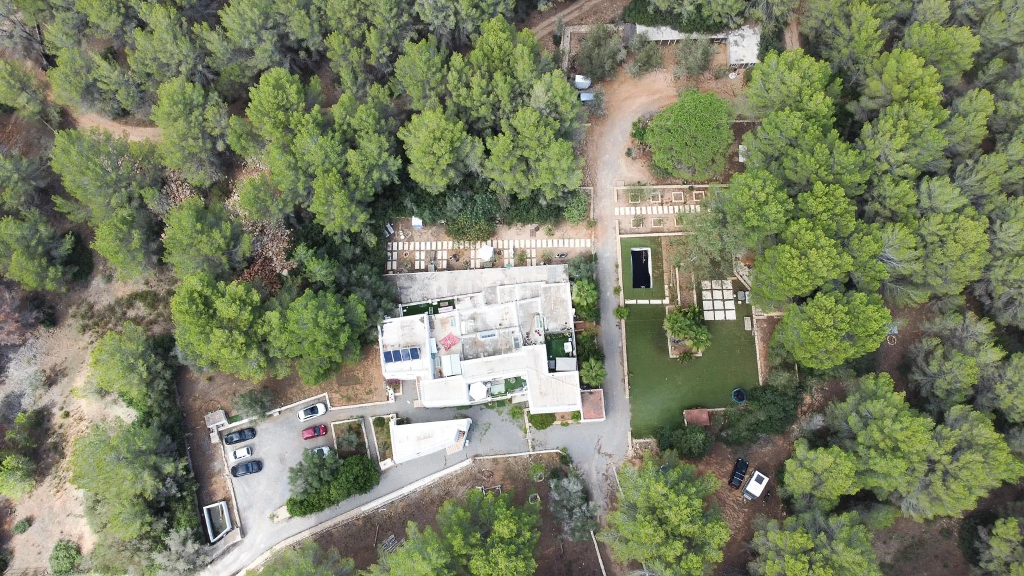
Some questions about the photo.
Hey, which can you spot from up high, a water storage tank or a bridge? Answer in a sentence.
Looking from above, you can make out a water storage tank.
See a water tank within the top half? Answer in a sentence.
No, I can find no water tank within the top half.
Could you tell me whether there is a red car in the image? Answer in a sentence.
Yes, there's a red car here.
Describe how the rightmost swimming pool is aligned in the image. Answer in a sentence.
I'd say the rightmost swimming pool is aligned up and down in the picture.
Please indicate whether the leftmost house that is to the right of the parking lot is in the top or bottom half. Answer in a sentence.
The leftmost house that is to the right of the parking lot is in the bottom half of the image.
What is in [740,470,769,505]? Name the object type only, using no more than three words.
camper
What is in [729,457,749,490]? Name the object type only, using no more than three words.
car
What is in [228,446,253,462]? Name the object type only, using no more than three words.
car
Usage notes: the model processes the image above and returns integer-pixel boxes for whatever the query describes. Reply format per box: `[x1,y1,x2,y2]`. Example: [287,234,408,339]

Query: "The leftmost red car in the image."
[301,424,328,440]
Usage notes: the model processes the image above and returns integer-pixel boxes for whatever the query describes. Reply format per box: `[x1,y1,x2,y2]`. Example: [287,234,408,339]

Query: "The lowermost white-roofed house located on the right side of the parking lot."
[378,414,474,470]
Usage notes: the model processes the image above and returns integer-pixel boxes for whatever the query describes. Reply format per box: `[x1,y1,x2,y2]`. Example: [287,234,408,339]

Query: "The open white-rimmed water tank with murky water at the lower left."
[204,501,236,542]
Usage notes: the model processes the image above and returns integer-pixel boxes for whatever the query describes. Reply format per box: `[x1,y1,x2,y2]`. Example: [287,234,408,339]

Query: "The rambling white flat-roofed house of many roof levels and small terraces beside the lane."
[378,264,604,423]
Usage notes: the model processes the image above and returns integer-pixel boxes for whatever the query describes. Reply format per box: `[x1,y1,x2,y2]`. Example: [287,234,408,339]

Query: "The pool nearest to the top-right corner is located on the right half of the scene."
[631,248,653,288]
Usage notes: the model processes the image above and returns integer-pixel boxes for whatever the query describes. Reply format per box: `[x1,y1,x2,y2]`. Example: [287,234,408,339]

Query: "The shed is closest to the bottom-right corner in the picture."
[684,408,710,426]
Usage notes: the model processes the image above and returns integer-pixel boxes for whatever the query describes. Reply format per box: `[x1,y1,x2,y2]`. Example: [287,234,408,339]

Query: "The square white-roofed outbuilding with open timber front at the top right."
[728,25,760,74]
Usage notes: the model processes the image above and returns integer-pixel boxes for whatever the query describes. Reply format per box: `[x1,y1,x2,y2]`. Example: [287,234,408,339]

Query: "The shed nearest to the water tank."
[205,410,233,444]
